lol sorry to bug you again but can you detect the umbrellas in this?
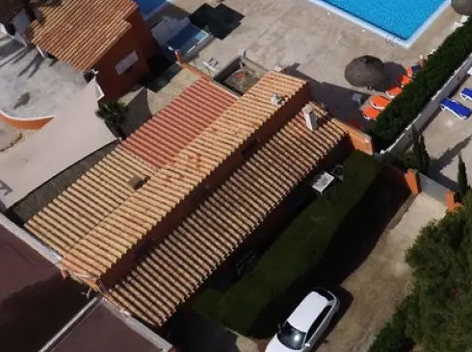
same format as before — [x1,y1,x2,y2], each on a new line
[450,0,472,21]
[345,59,386,95]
